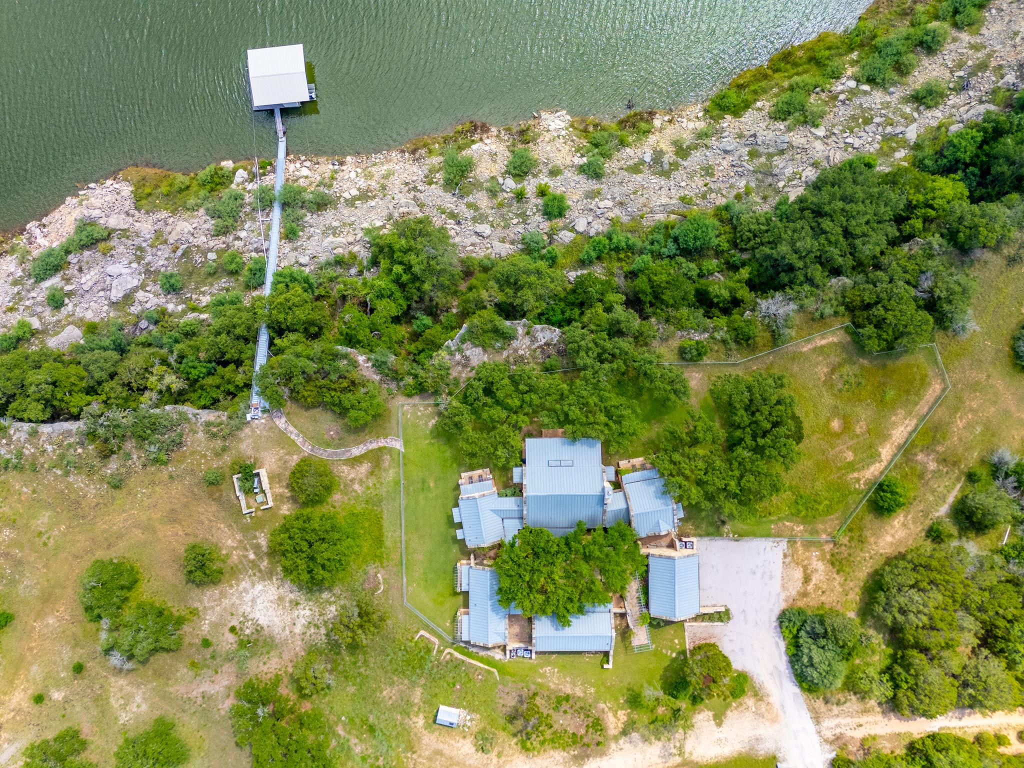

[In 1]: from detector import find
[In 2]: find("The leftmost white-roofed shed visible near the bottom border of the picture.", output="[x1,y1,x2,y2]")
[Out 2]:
[437,698,461,733]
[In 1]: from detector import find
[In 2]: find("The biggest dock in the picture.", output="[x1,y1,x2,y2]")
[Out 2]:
[245,44,310,111]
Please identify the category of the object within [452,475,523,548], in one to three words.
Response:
building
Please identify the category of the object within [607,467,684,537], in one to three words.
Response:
building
